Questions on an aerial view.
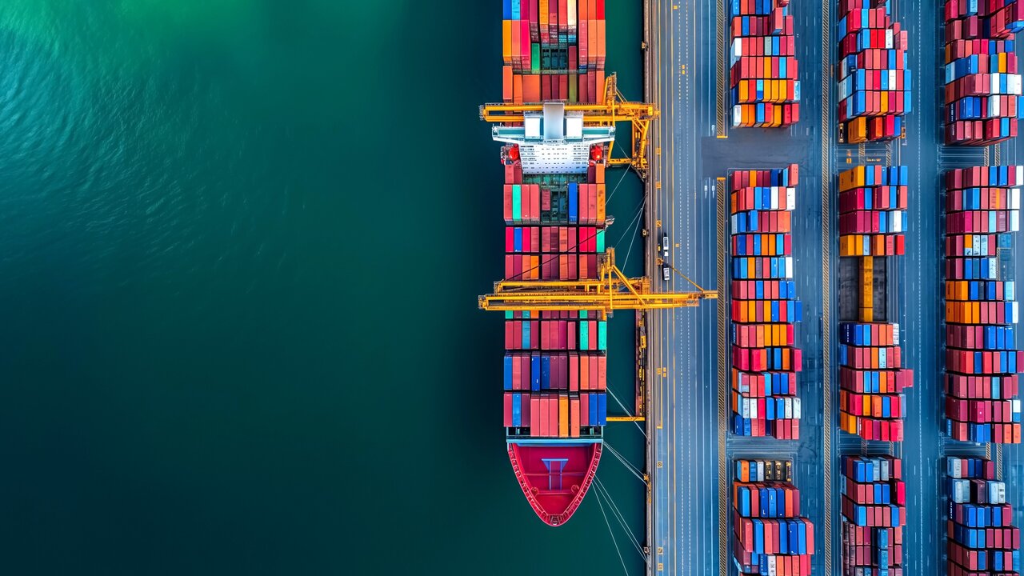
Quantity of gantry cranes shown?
3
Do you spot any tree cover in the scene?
No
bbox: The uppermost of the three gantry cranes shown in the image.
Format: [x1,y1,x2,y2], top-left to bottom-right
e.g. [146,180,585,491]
[479,68,660,171]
